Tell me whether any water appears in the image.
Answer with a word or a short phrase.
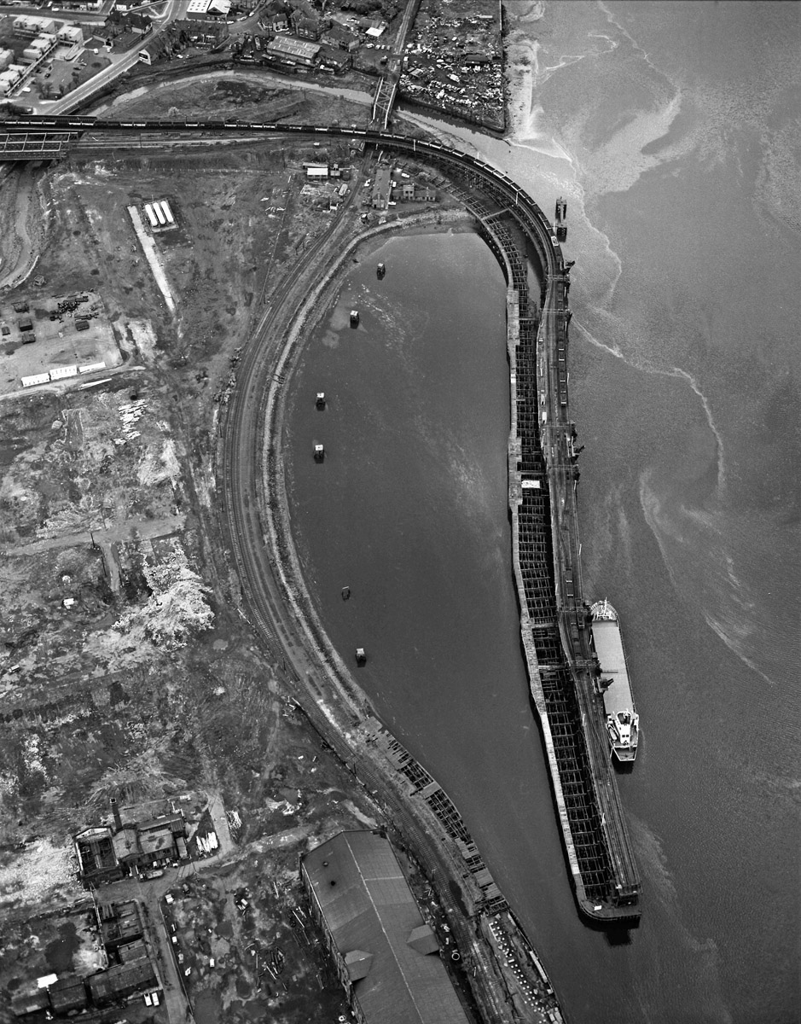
Yes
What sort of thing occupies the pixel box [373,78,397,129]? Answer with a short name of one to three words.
bridge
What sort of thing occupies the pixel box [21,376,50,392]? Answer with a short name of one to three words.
building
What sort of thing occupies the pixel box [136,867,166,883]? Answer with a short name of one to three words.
vehicle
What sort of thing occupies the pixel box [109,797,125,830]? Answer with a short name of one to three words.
chimney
